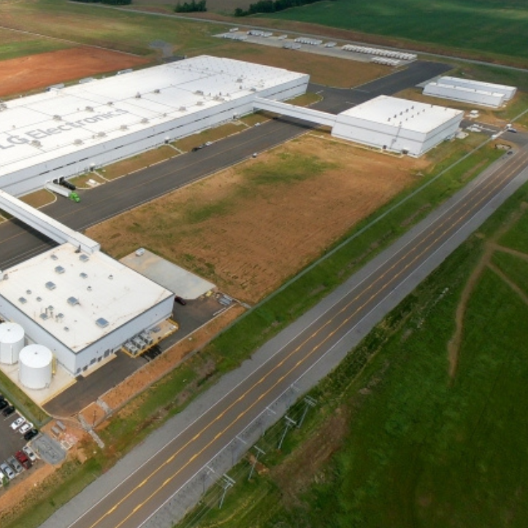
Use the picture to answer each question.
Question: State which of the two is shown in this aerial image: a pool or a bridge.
bridge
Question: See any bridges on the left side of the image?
Yes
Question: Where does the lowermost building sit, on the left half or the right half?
left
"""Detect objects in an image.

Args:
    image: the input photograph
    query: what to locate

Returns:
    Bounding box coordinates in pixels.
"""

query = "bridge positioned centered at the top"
[246,97,338,125]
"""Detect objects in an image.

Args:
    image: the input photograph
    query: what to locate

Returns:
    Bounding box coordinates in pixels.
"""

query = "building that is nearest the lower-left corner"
[0,241,176,375]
